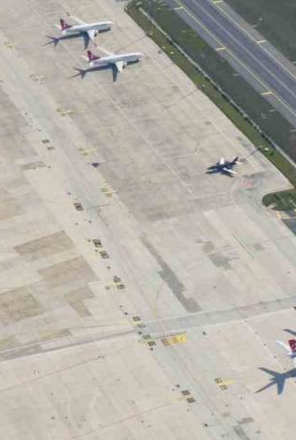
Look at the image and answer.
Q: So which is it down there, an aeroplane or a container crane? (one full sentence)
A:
There is an aeroplane in the scene.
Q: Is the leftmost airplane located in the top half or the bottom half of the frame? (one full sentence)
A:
You can find the leftmost airplane in the top half.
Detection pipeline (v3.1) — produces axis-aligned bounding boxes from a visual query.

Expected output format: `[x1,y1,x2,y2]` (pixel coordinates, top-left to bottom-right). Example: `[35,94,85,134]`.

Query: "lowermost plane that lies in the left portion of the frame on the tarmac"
[87,45,143,73]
